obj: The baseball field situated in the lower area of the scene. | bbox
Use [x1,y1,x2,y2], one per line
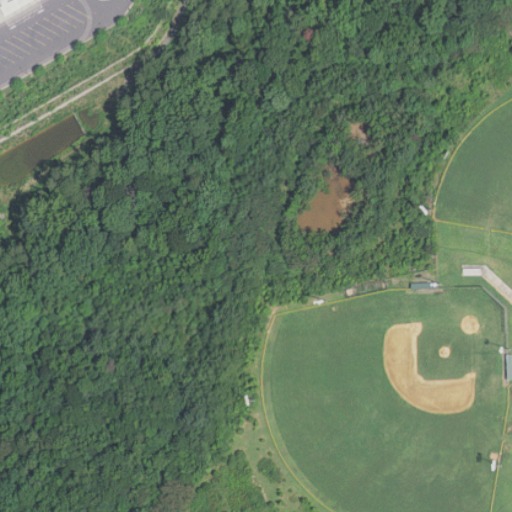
[262,288,507,512]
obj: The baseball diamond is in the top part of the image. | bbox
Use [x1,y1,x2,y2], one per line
[435,100,512,232]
